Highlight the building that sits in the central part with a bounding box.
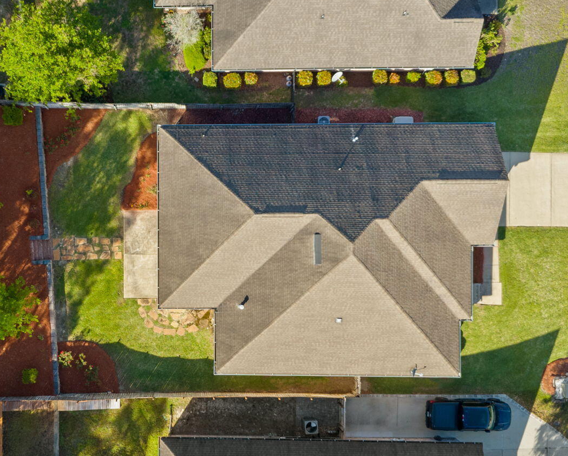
[155,122,509,378]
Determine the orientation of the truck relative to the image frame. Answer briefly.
from side to side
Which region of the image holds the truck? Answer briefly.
bottom right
